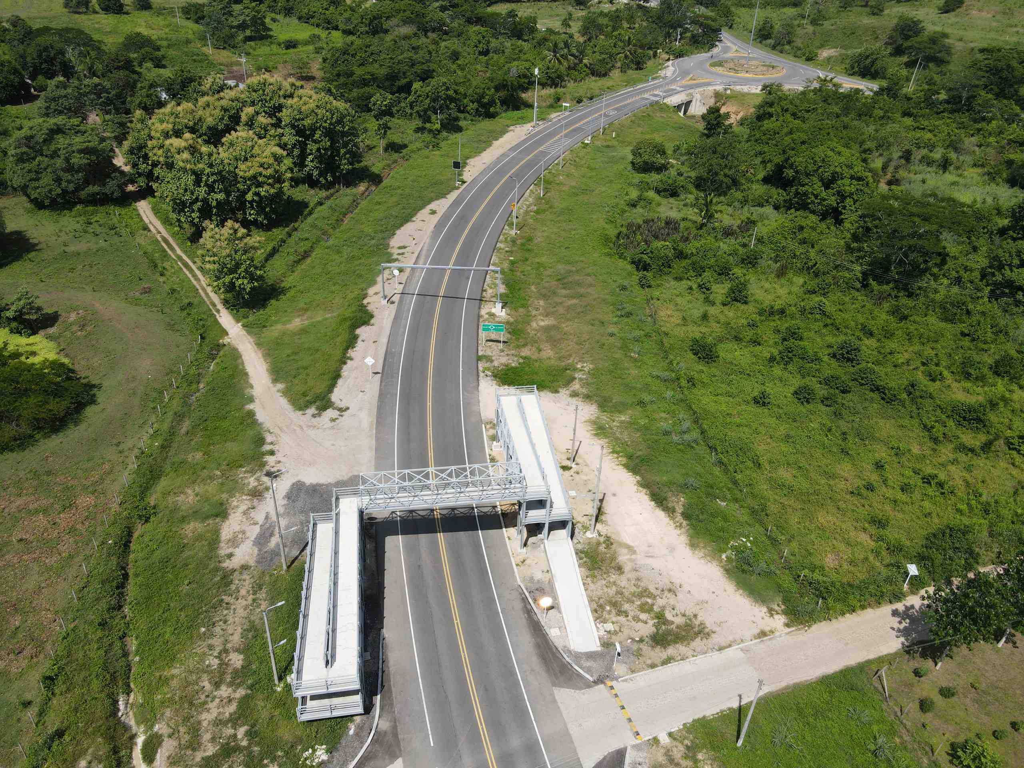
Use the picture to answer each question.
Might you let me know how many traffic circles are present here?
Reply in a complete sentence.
The picture shows 1 traffic circle.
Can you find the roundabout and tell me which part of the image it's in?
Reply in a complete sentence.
The roundabout appears toward the top right of the photo.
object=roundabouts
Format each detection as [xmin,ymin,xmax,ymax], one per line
[657,22,906,99]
